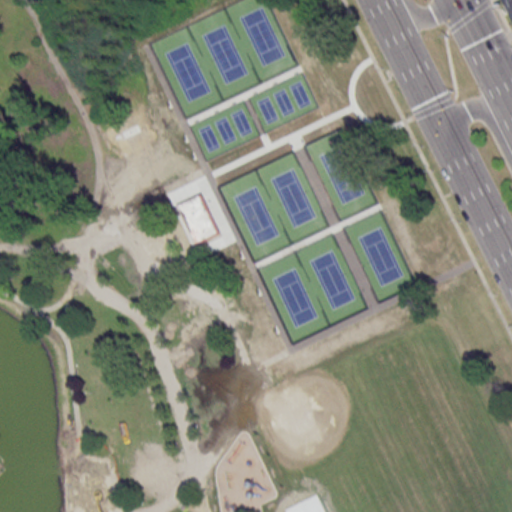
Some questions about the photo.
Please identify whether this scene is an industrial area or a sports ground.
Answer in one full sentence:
The picture captures a sports ground.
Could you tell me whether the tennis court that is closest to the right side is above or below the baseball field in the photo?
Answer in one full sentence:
The tennis court that is closest to the right side is found above the baseball field in the photo.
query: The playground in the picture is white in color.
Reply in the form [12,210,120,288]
[216,431,277,512]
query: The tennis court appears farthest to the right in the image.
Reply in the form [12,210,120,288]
[344,212,410,302]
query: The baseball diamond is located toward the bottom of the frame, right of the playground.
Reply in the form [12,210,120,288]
[259,316,512,512]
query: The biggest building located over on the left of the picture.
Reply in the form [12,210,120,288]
[178,194,220,244]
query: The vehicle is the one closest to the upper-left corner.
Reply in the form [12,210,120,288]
[118,126,141,139]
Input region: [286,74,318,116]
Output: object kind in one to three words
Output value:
sports court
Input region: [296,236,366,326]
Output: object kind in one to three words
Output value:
tennis court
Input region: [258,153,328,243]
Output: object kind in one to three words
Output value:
tennis court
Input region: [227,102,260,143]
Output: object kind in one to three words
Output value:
sports court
